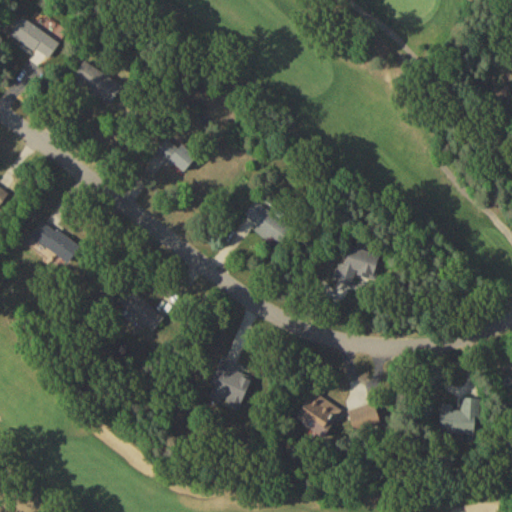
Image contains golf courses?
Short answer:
Yes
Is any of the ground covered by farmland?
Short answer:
No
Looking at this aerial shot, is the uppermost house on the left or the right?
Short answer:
left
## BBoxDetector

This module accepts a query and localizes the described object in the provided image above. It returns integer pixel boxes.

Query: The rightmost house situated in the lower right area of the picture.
[440,397,480,432]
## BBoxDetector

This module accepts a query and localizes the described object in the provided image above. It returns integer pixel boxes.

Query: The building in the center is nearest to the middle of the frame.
[247,203,290,240]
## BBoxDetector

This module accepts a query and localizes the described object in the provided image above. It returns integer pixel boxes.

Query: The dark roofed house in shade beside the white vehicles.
[118,297,161,337]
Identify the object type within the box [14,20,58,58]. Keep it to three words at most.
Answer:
house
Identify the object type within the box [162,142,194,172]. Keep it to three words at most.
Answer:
house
